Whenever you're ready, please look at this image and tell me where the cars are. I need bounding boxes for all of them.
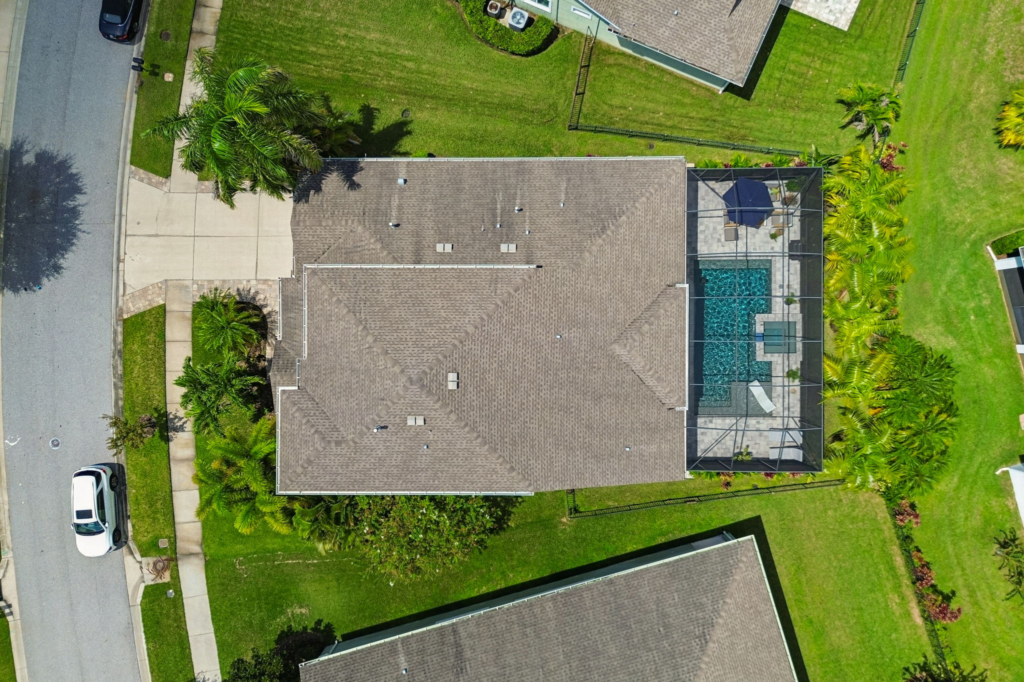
[98,0,146,43]
[70,462,124,557]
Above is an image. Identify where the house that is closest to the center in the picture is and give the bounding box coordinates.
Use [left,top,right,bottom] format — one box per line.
[268,155,691,495]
